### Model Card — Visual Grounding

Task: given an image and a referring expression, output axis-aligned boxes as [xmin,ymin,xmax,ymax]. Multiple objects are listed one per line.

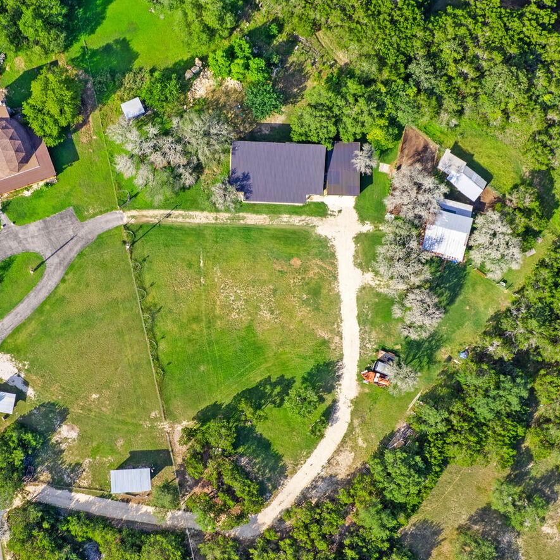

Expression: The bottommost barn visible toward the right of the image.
[418,199,473,262]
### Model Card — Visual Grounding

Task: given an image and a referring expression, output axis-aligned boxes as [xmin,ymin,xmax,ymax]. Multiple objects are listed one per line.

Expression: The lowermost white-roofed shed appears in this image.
[110,465,151,494]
